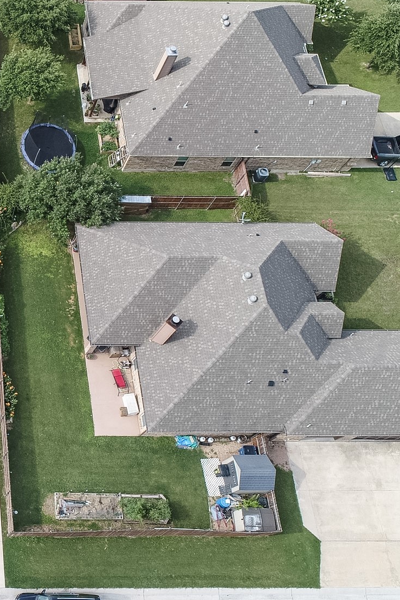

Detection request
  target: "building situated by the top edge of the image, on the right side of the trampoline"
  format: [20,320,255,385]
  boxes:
[81,0,382,175]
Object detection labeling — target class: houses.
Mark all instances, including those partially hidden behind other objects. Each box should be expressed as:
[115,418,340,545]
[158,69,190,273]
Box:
[75,211,400,442]
[81,0,382,175]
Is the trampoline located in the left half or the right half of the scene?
left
